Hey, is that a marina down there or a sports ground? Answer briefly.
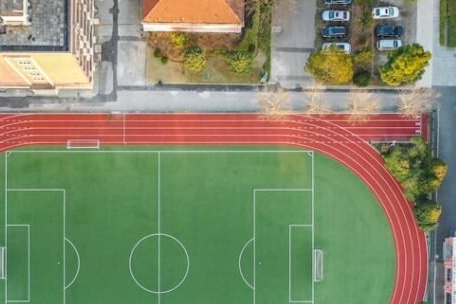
sports ground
